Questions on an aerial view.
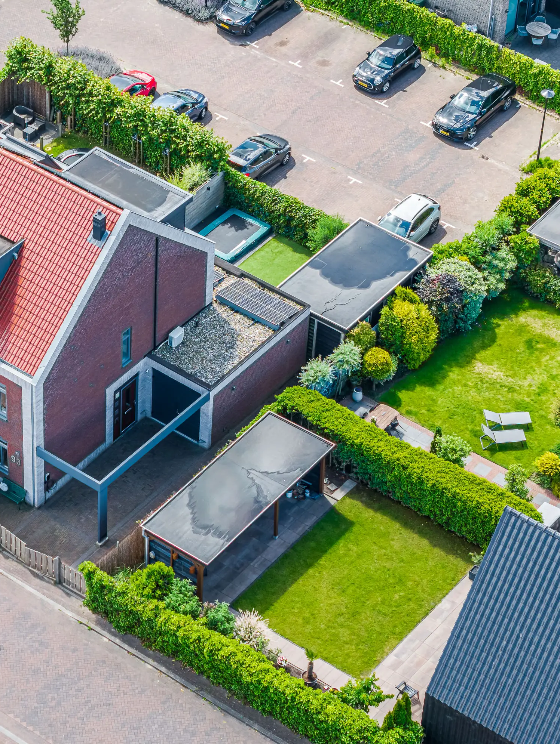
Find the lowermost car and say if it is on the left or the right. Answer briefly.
right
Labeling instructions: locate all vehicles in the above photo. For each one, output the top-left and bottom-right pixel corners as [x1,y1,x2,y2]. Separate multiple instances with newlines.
[99,68,156,103]
[432,73,519,146]
[214,0,294,39]
[370,194,443,243]
[227,136,292,191]
[351,33,423,94]
[149,90,208,127]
